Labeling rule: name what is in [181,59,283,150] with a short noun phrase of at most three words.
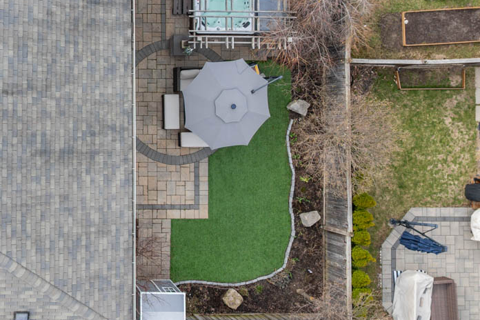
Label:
umbrella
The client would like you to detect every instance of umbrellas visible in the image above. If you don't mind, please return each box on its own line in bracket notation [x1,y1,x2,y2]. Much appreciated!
[181,59,283,150]
[386,220,448,254]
